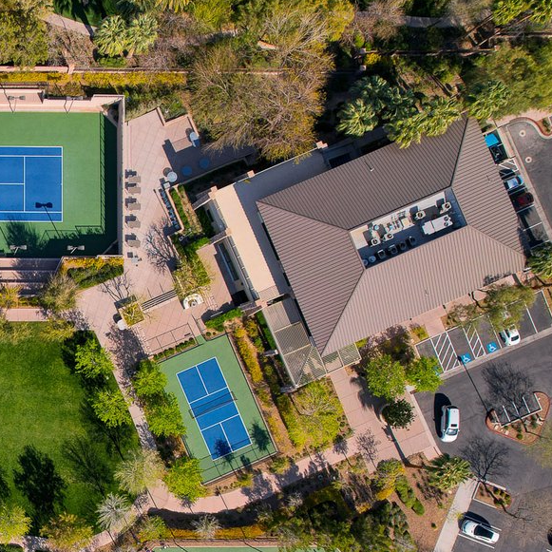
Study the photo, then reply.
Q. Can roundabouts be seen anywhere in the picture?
No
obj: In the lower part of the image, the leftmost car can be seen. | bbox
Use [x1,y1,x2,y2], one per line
[443,407,462,438]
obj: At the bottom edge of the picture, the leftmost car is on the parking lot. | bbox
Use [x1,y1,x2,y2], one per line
[465,520,499,543]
